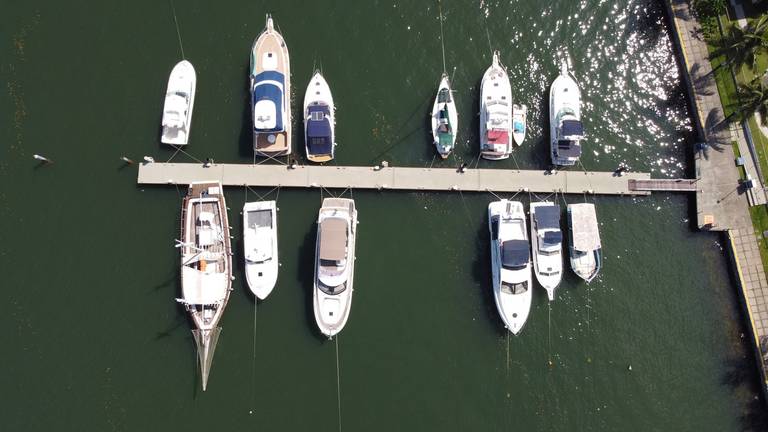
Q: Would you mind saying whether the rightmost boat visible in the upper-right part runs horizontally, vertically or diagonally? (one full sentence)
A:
The rightmost boat visible in the upper-right part has been laid out vertically relative to the frame.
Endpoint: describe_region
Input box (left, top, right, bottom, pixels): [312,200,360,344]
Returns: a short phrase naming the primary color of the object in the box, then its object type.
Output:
white boat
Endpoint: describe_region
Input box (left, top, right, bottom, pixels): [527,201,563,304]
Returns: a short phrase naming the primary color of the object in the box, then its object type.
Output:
white boat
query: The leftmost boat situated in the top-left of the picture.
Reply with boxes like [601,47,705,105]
[161,58,200,147]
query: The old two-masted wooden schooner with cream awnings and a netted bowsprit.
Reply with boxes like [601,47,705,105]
[175,181,237,390]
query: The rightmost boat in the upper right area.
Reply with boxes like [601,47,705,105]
[548,62,590,170]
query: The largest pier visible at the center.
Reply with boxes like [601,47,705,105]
[137,162,650,196]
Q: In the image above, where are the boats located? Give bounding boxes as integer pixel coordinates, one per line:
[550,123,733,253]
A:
[430,73,460,160]
[564,204,602,281]
[513,103,526,146]
[312,200,360,344]
[488,200,532,337]
[244,201,282,298]
[250,20,296,161]
[548,62,590,170]
[303,68,338,164]
[161,58,200,147]
[527,201,563,304]
[476,53,512,165]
